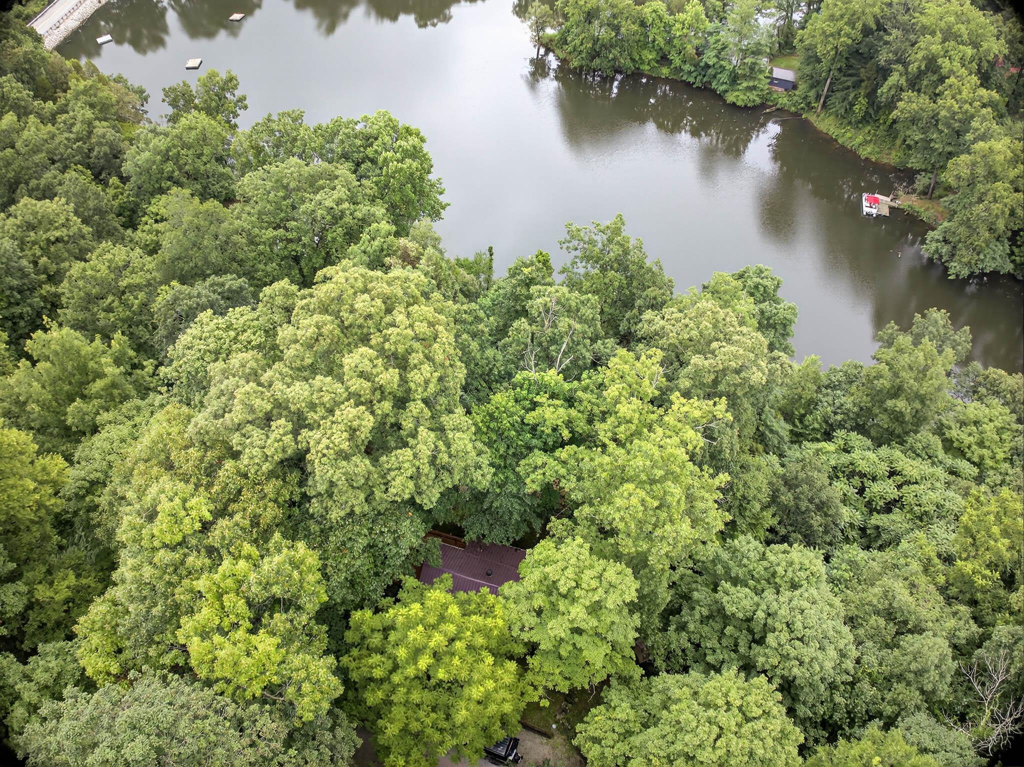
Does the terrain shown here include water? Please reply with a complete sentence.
Yes, water can be seen from above here.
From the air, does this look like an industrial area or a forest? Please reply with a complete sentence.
This looks like a forest.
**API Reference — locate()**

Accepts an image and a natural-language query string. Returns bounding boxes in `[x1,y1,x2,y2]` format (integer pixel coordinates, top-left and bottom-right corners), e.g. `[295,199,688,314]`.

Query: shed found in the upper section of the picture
[768,70,796,87]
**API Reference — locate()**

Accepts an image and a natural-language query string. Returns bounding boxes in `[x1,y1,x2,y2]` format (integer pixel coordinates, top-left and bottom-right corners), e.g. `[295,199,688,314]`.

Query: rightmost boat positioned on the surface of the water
[862,193,881,218]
